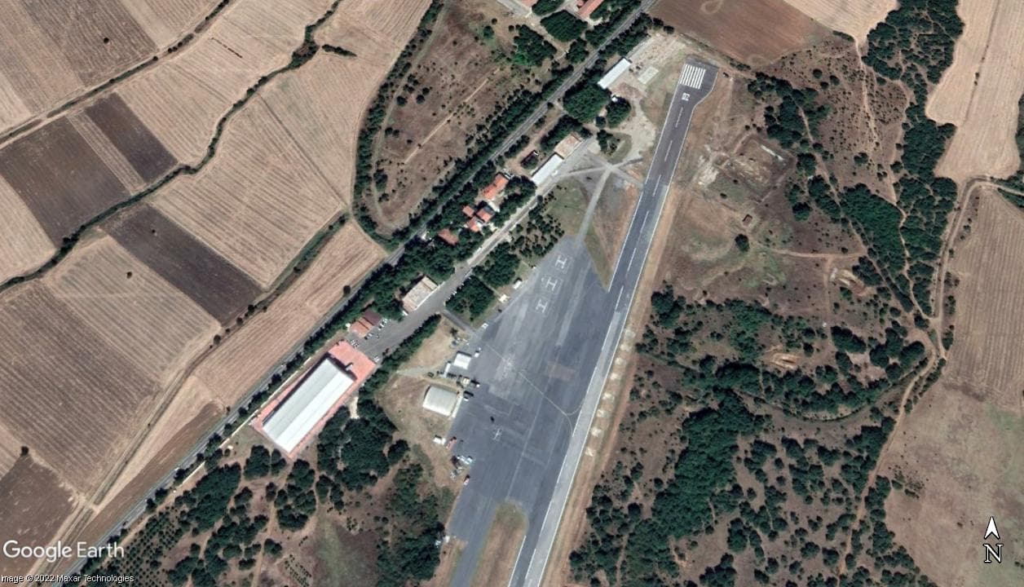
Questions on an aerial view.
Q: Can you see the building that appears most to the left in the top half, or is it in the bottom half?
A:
bottom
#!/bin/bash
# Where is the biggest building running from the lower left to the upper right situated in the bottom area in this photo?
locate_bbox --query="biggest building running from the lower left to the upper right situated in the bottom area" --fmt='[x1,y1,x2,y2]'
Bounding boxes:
[262,356,355,453]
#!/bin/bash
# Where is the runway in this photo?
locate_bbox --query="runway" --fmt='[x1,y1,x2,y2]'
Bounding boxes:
[508,56,719,587]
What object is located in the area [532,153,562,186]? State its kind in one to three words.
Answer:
shed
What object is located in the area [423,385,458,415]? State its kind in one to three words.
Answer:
hangar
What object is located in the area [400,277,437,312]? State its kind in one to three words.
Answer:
building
